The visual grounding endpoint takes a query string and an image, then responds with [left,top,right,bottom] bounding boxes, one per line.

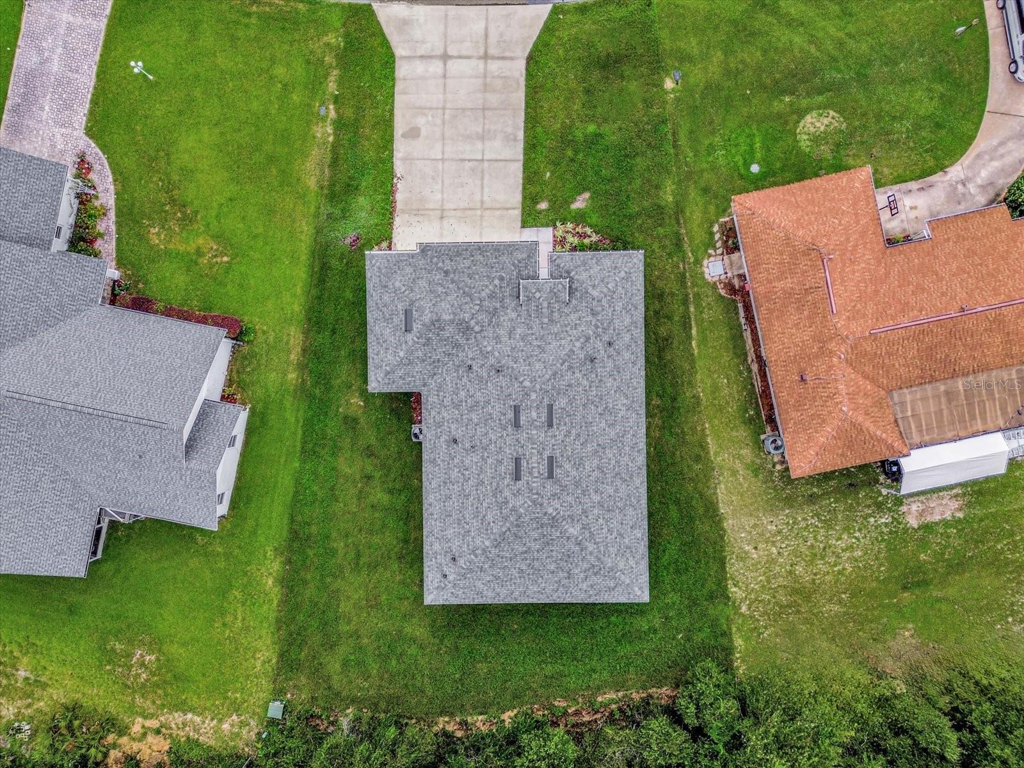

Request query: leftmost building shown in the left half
[0,148,251,579]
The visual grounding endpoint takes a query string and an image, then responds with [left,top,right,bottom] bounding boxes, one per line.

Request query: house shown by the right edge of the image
[730,166,1024,479]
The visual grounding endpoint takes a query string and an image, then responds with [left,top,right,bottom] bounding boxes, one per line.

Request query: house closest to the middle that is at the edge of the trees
[366,239,649,605]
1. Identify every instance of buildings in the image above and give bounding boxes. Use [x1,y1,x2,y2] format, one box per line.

[0,148,251,579]
[730,166,1024,479]
[366,239,649,605]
